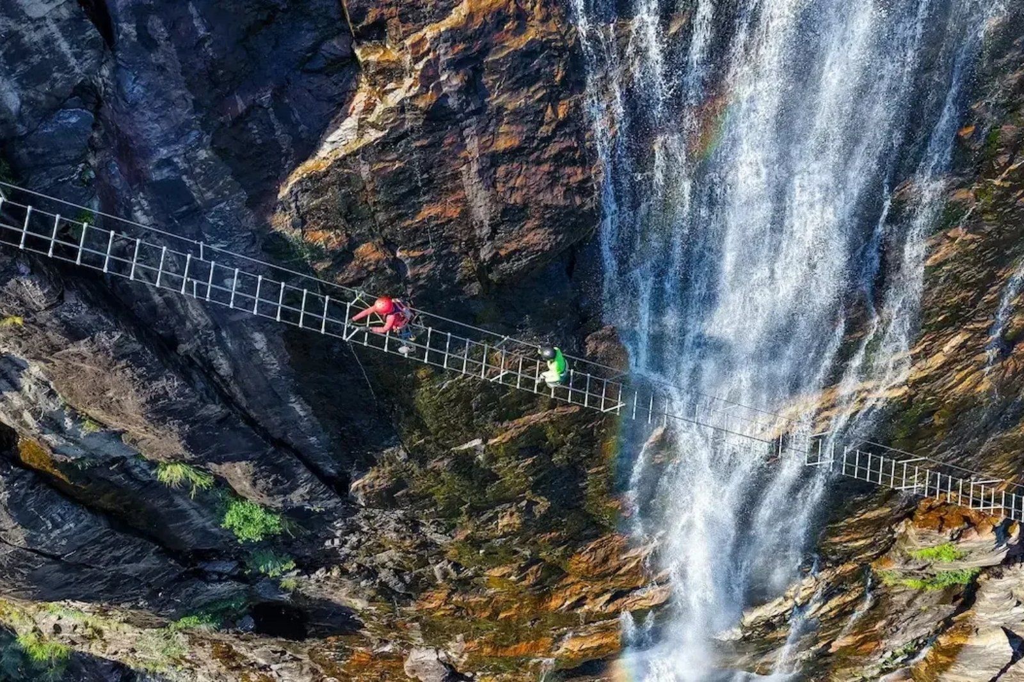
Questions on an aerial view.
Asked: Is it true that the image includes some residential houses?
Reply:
No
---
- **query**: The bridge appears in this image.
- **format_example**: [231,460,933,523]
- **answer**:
[0,182,1024,523]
